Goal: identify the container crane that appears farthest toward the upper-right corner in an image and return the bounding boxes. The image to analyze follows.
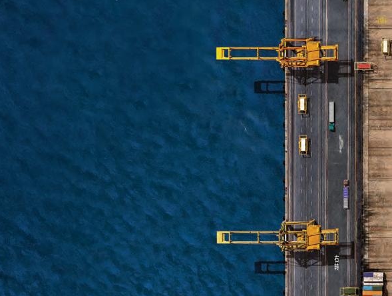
[216,36,337,69]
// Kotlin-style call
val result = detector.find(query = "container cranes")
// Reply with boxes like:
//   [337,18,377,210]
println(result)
[216,36,337,69]
[216,218,337,252]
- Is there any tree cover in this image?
No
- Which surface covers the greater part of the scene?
water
